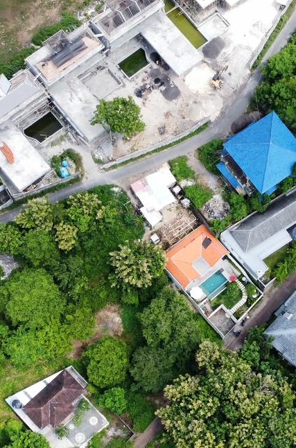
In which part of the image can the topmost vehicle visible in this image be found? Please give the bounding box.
[206,70,230,99]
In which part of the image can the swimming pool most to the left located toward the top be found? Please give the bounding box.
[22,111,65,144]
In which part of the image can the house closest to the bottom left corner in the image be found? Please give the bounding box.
[6,367,88,441]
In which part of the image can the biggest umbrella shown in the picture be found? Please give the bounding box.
[190,286,204,301]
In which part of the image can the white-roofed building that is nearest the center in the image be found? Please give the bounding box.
[131,166,177,226]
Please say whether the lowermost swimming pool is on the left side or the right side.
right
